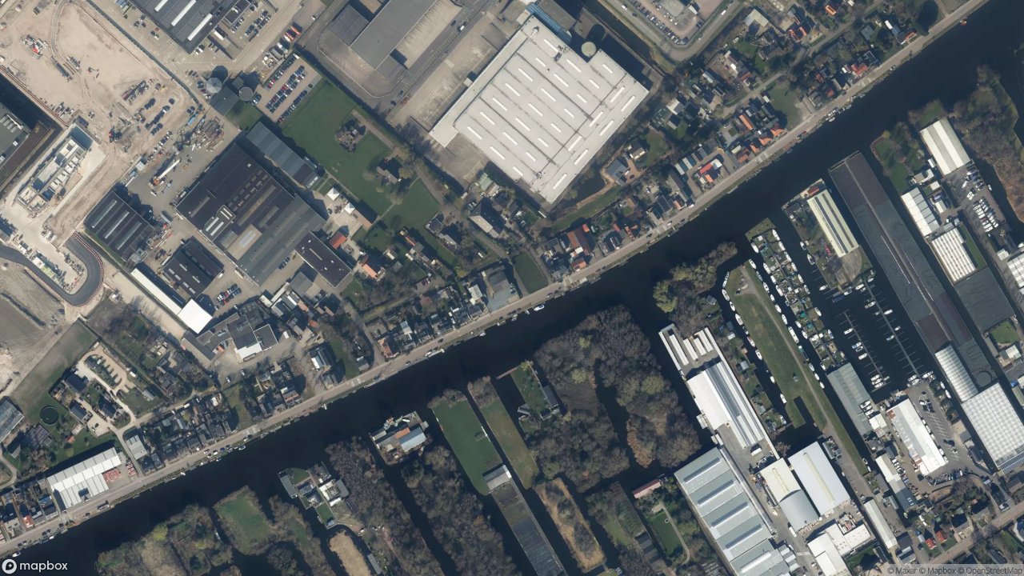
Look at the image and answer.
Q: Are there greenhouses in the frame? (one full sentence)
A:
Yes, the frame does contain a greenhouse.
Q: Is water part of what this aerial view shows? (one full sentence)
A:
Yes, water can be seen from above here.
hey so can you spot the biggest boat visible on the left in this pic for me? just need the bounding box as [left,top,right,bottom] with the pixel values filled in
[278,470,294,496]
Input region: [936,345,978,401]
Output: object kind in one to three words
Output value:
greenhouse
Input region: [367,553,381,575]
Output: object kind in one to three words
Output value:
boat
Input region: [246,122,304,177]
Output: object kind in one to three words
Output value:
shed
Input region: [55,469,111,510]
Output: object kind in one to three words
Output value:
building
